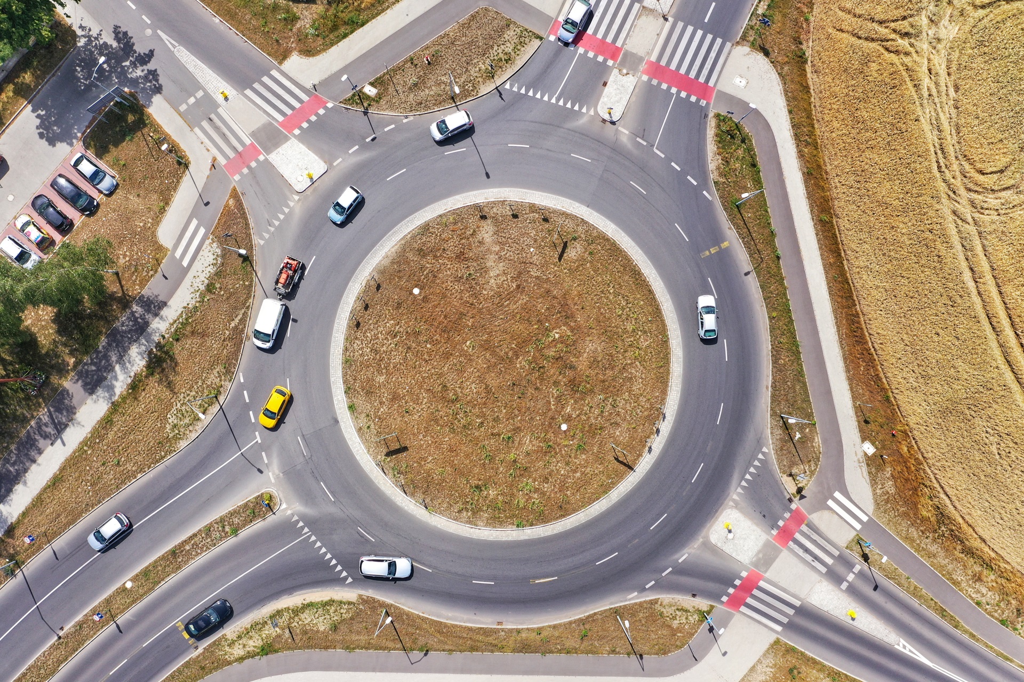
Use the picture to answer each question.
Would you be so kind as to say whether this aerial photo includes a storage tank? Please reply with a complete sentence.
No, there's no storage tank here.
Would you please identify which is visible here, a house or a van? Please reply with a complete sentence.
I can see a van in this picture.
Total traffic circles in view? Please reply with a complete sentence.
The picture shows 1 traffic circle.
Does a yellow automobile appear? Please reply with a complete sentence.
Yes, there is a yellow automobile in the image.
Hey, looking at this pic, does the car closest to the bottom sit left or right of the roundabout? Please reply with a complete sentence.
You can see the car closest to the bottom positioned to the left of the roundabout.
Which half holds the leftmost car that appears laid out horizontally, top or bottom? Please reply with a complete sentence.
The bottom half of the photo is where the leftmost car that appears laid out horizontally is.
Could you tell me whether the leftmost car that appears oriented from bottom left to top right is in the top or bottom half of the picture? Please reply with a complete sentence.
The bottom half of the photo is where the leftmost car that appears oriented from bottom left to top right is.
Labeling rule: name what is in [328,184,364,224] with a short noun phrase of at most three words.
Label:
car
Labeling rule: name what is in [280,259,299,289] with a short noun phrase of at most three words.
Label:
work vehicle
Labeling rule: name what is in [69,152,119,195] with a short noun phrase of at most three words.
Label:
car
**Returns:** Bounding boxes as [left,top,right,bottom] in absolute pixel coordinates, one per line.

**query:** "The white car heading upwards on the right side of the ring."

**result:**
[695,294,719,339]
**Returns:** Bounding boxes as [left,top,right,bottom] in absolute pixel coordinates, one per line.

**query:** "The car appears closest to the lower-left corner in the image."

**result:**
[88,511,132,551]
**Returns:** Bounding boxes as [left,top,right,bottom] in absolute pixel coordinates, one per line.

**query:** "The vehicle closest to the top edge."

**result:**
[557,0,590,45]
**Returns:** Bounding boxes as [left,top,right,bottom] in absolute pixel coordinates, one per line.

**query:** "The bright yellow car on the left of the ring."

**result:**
[259,384,292,430]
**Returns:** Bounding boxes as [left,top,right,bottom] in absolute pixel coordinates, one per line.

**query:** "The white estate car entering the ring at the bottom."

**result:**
[359,555,412,581]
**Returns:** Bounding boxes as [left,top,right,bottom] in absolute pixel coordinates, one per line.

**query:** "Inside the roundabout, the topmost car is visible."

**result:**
[430,109,474,143]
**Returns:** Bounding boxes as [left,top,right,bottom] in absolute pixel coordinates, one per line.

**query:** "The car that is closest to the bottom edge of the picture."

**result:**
[183,596,234,640]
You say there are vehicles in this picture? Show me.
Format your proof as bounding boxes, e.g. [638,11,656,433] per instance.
[250,298,286,350]
[430,109,474,143]
[0,235,44,276]
[183,596,234,640]
[695,294,719,339]
[359,555,412,581]
[280,259,299,289]
[69,152,119,195]
[31,193,75,234]
[46,172,100,215]
[557,0,590,45]
[88,511,132,551]
[328,184,364,224]
[14,214,55,251]
[259,384,292,430]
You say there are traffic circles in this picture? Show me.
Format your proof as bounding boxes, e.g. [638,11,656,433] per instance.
[230,91,771,628]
